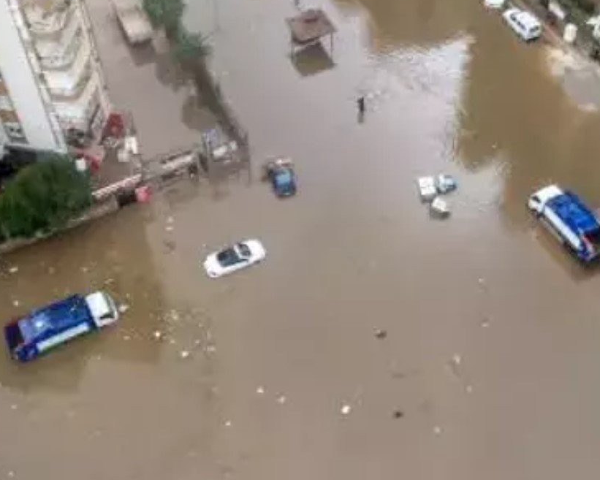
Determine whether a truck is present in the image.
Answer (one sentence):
Yes, the picture does show a truck.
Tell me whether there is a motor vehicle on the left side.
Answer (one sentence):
Yes, a motor vehicle shows up on the left side.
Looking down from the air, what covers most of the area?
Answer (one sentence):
Most of the picture is covered by water.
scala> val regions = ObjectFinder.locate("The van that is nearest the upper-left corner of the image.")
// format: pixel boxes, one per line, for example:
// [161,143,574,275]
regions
[111,0,151,38]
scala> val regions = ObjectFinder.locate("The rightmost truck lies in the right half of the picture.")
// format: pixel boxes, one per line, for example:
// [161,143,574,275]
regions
[536,190,600,270]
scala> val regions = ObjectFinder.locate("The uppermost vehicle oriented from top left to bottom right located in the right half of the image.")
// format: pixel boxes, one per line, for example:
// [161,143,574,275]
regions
[502,2,541,32]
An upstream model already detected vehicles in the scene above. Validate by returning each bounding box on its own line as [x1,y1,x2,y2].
[0,292,113,369]
[265,163,298,199]
[203,234,266,272]
[536,190,600,270]
[111,0,151,38]
[502,2,541,32]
